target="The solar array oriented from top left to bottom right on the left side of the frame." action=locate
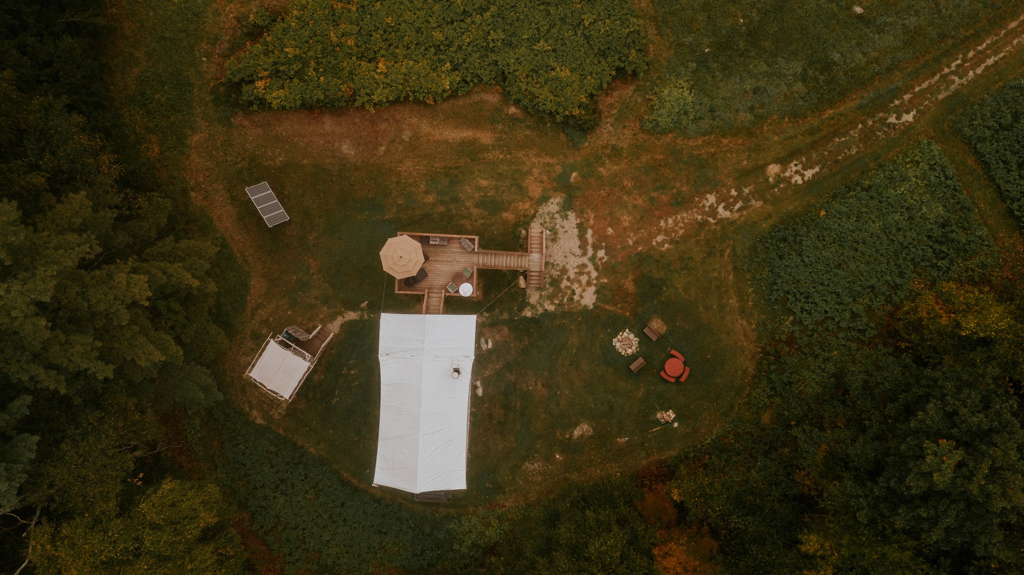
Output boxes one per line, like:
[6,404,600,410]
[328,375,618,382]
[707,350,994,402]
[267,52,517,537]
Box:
[246,182,289,227]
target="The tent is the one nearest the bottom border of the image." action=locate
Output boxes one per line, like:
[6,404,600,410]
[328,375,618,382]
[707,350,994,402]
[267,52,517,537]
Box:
[373,313,478,502]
